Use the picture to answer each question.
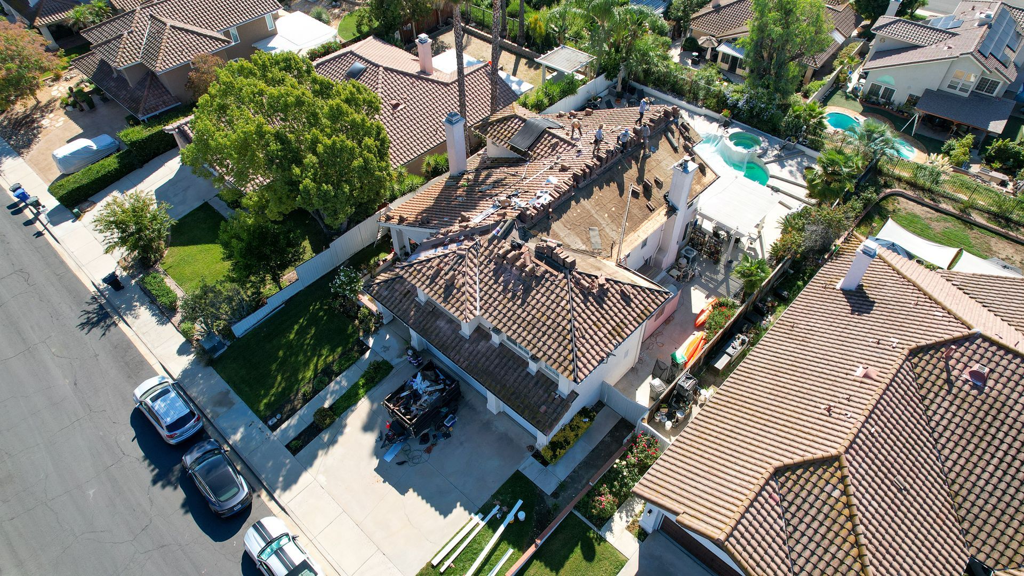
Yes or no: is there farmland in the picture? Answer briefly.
No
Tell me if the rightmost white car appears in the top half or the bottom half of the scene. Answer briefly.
bottom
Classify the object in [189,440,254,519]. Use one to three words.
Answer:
car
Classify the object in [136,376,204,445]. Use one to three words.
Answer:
car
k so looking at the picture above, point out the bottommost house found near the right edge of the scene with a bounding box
[627,230,1024,576]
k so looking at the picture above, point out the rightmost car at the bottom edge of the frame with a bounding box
[253,519,331,576]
